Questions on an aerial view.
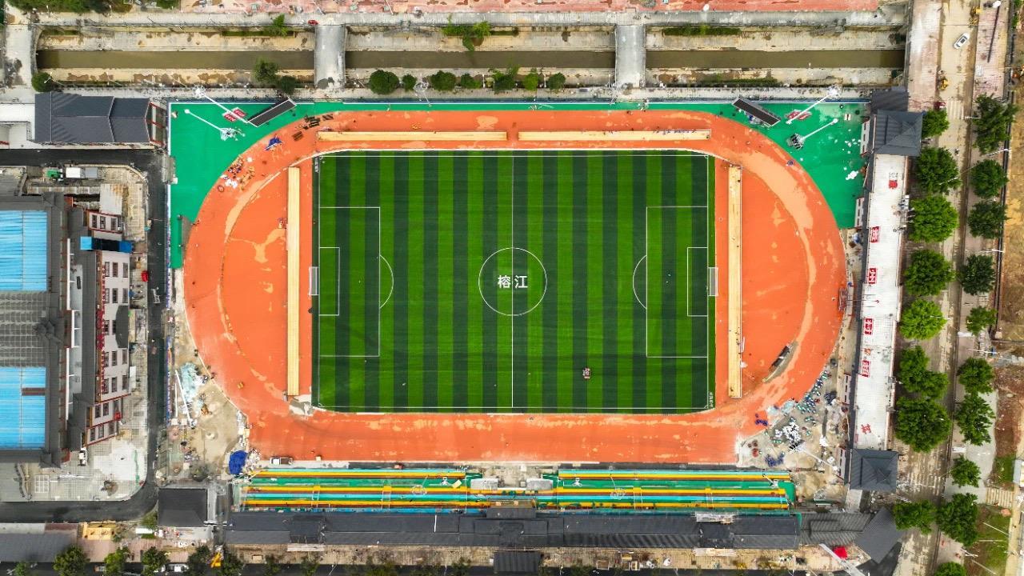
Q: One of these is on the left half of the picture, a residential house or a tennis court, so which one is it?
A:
residential house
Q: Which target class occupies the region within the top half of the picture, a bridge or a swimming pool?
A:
bridge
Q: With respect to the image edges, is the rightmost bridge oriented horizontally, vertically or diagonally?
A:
vertically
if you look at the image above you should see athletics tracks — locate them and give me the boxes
[182,110,848,463]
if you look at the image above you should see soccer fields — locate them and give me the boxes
[312,151,715,414]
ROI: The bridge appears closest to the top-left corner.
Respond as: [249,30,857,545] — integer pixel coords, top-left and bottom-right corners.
[1,21,41,93]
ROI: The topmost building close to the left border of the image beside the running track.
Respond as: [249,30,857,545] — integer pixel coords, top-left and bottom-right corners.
[35,91,174,143]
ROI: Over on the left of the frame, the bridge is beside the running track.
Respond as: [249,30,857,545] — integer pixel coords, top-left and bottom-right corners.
[312,21,349,93]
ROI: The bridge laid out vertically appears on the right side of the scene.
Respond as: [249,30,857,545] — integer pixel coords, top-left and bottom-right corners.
[613,21,647,93]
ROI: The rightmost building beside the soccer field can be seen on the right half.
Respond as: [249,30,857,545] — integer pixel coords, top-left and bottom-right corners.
[837,108,912,489]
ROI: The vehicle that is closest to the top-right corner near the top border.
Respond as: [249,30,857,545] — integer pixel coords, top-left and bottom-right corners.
[970,2,988,26]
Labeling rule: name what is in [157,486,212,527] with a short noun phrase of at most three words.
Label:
building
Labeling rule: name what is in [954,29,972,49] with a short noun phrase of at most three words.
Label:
car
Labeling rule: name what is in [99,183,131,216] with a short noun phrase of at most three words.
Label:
shed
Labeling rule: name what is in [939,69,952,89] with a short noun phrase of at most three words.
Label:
vehicle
